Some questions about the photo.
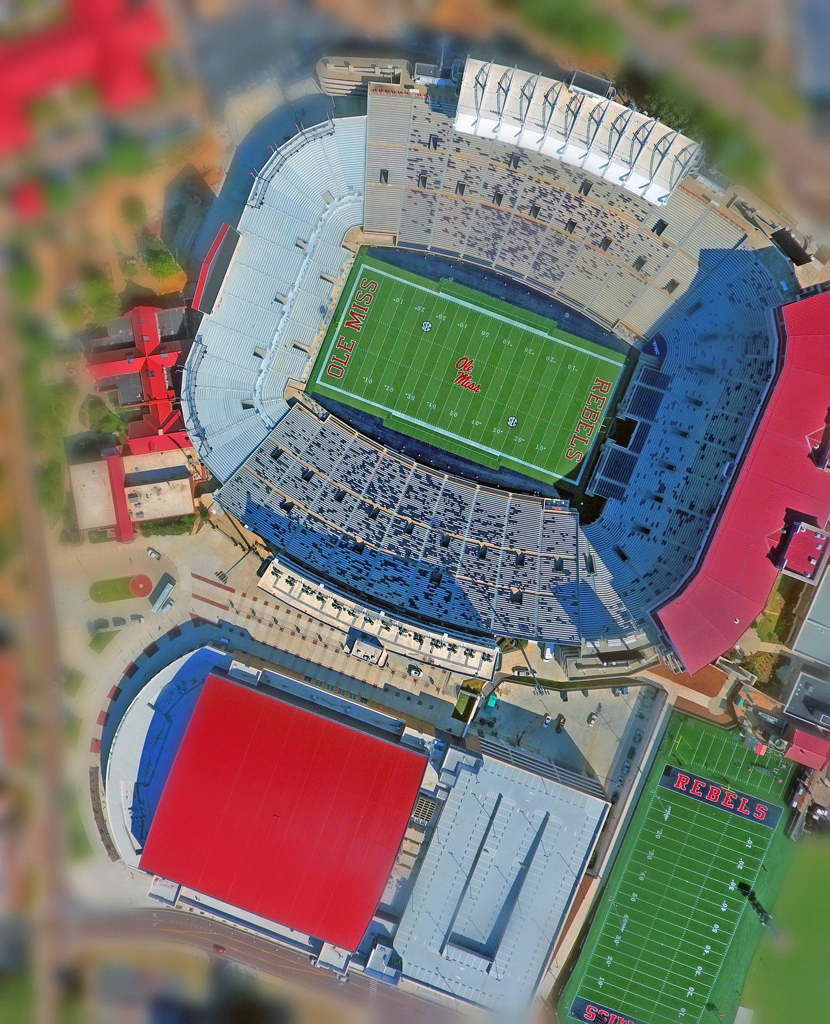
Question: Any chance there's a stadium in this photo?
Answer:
Yes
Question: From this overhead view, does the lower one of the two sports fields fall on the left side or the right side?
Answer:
right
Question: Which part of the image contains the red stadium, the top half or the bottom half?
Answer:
bottom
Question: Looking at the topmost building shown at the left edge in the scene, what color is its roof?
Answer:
red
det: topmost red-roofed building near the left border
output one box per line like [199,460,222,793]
[0,0,183,175]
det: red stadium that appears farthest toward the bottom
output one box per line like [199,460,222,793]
[105,632,443,976]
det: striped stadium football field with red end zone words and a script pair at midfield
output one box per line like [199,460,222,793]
[301,246,643,495]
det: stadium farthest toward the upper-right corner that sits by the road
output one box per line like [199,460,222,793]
[178,51,830,683]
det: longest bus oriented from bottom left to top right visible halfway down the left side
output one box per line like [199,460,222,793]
[149,583,173,616]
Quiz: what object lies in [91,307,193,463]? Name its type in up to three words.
building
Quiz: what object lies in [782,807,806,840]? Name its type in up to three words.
shed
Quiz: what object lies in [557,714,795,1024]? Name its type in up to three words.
sports field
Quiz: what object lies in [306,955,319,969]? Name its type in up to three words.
vehicle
